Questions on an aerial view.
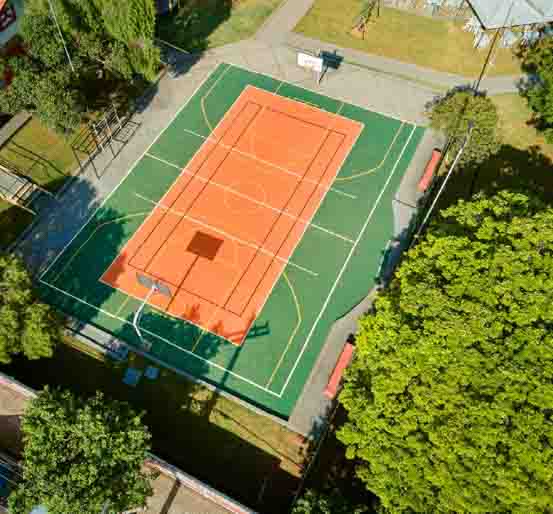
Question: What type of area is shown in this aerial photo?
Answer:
sports ground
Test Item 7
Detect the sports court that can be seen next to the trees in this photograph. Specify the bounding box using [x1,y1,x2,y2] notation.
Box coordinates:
[31,59,428,420]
